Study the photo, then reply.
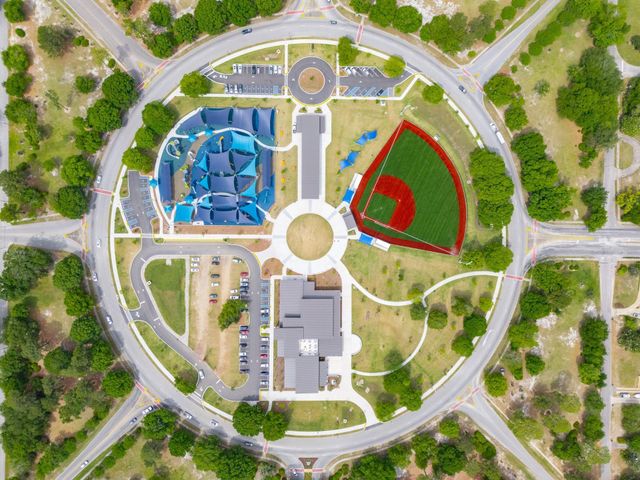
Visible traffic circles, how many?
2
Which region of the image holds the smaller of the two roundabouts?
top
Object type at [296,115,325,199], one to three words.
building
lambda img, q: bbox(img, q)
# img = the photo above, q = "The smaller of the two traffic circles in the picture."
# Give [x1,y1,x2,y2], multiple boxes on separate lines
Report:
[288,56,336,106]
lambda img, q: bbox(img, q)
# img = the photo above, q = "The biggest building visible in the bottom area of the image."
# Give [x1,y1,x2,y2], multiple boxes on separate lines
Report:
[274,279,343,393]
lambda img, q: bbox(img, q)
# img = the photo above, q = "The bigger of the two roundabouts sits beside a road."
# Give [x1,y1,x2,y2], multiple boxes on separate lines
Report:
[89,18,526,458]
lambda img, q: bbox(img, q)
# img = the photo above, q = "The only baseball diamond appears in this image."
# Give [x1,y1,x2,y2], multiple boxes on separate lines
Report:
[351,121,466,255]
